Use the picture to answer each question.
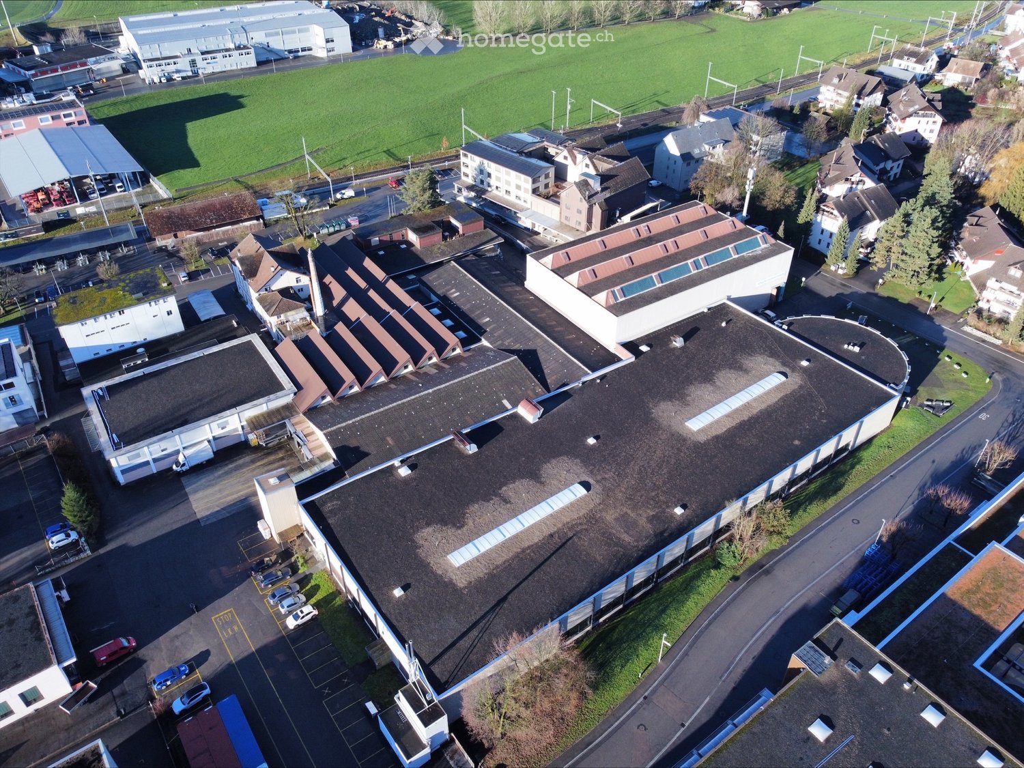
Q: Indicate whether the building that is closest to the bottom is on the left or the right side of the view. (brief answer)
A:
left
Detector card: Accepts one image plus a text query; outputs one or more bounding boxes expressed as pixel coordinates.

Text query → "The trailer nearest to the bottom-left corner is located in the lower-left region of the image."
[52,670,105,720]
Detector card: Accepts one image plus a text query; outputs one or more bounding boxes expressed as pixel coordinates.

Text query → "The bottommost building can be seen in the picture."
[38,737,114,768]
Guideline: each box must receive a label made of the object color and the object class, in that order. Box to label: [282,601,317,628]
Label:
white car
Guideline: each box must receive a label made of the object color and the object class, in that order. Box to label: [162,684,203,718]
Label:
blue car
